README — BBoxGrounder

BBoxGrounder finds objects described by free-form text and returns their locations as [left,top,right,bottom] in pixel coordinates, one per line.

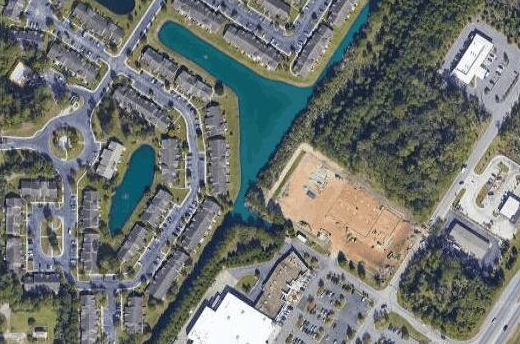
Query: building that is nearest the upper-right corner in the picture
[455,32,495,84]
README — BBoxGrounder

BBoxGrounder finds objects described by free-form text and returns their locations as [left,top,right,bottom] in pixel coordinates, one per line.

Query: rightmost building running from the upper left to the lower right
[451,224,494,257]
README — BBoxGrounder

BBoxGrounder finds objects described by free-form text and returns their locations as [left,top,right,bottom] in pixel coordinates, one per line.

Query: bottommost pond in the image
[108,144,154,235]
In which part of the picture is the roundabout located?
left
